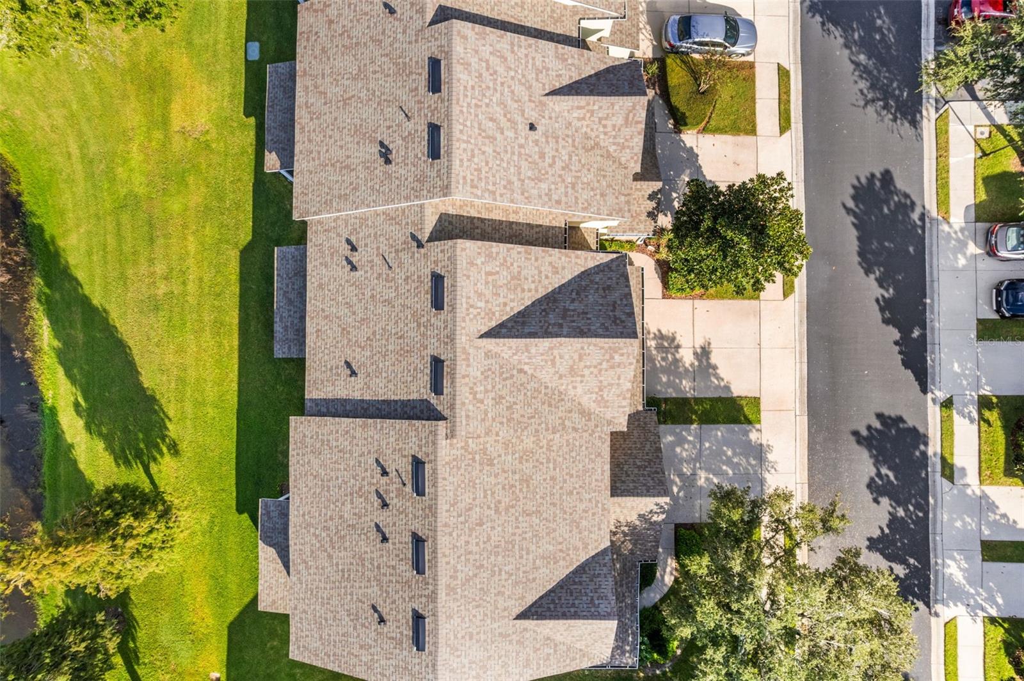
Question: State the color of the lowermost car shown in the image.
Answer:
black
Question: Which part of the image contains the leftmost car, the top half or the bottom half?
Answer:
top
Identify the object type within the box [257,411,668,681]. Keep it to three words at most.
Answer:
house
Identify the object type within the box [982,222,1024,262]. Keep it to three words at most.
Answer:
car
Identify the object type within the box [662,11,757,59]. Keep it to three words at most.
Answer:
car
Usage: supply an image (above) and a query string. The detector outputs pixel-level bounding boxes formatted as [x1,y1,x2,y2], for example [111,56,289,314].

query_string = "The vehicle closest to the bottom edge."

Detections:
[990,280,1024,319]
